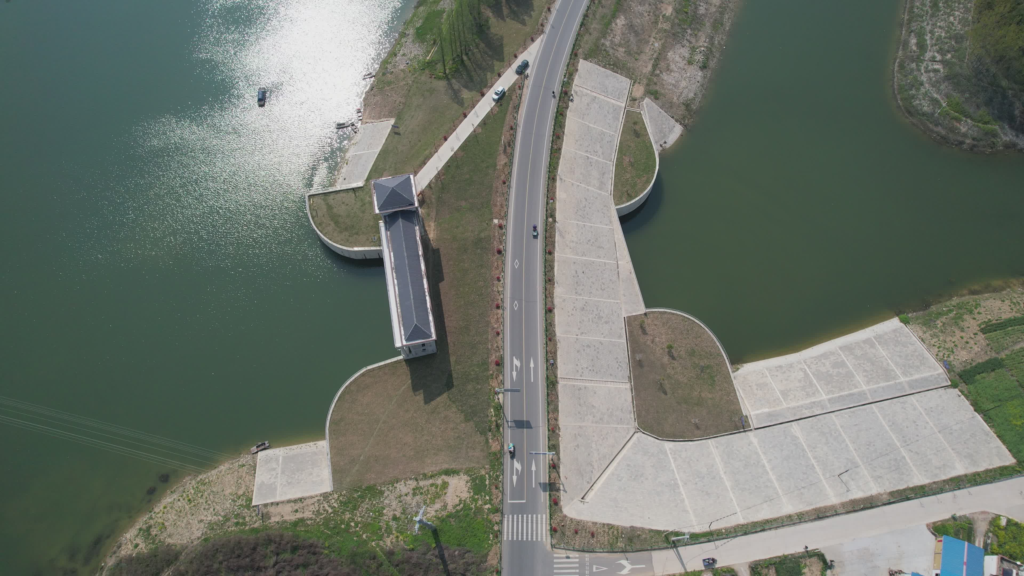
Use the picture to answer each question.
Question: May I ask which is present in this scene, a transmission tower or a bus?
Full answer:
Looking from above, you can make out a transmission tower.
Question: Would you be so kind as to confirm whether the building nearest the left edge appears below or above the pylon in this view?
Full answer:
Within the scene, the building nearest the left edge can be found above the pylon.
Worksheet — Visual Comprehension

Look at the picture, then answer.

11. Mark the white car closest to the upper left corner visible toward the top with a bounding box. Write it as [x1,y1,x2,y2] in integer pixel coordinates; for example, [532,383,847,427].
[491,84,506,100]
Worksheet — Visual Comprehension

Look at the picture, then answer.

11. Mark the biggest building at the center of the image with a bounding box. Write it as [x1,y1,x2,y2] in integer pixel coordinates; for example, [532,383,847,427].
[370,172,437,356]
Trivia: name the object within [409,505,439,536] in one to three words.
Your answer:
pylon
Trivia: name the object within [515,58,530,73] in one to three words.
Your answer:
car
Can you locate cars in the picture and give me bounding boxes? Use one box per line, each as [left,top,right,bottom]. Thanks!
[491,84,506,100]
[515,58,530,73]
